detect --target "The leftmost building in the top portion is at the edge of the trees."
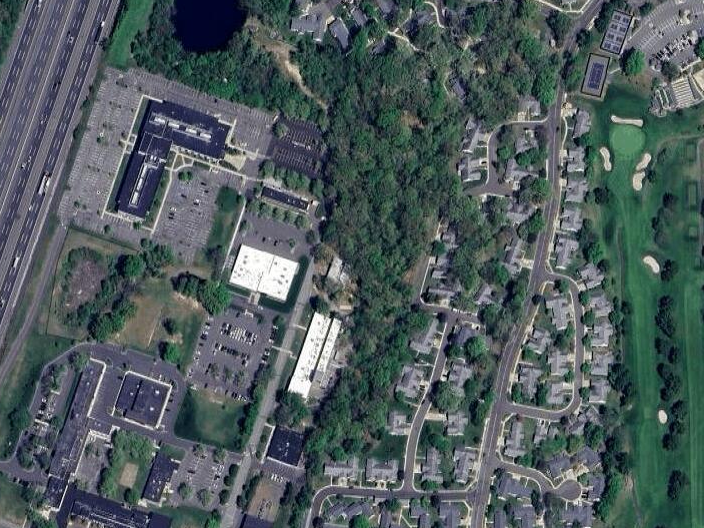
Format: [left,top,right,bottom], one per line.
[117,98,231,223]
